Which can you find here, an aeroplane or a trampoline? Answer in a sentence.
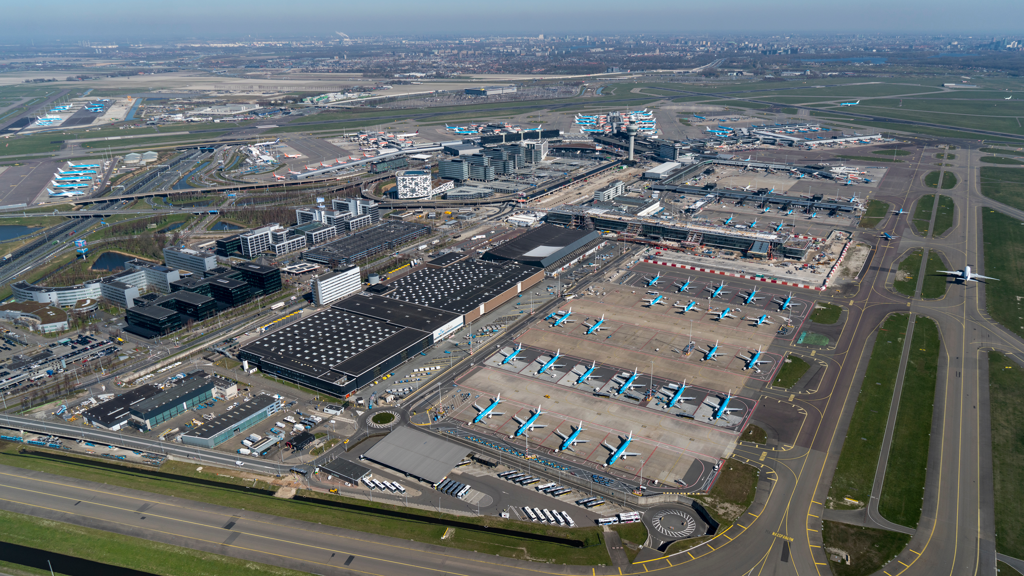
It is an aeroplane that can be seen here.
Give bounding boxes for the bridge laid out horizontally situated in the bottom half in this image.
[0,419,297,479]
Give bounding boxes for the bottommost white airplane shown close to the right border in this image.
[937,265,998,283]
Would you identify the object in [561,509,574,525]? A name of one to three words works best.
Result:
vehicle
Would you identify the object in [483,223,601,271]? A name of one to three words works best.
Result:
hangar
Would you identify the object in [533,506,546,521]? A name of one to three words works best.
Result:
vehicle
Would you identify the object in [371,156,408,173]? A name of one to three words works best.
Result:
building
